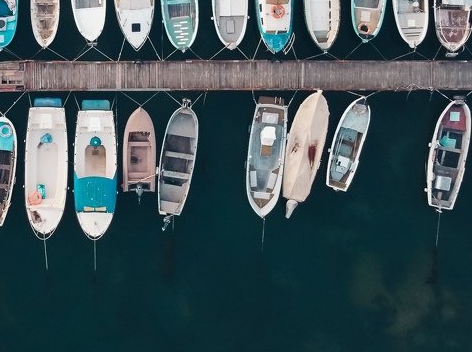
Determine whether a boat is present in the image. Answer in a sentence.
Yes, a boat appears in the view.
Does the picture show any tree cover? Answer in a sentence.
No, there's no tree cover in this view.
